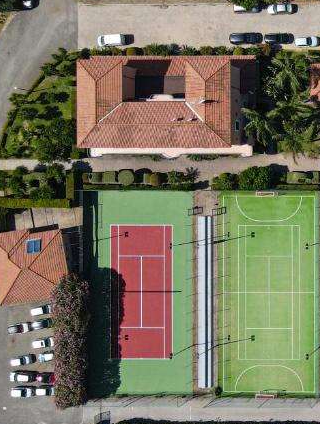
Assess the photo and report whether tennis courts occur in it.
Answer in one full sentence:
Yes, looking at the shot, I can spot a tennis court.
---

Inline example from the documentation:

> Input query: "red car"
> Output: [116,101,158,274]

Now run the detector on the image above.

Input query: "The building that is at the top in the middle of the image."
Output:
[76,56,266,158]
